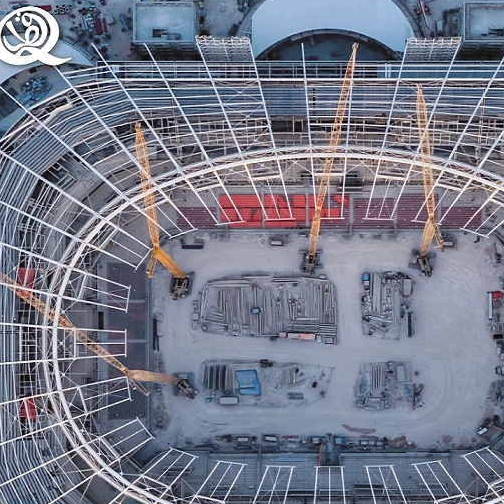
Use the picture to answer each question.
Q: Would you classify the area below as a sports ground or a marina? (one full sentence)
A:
This image shows a sports ground.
